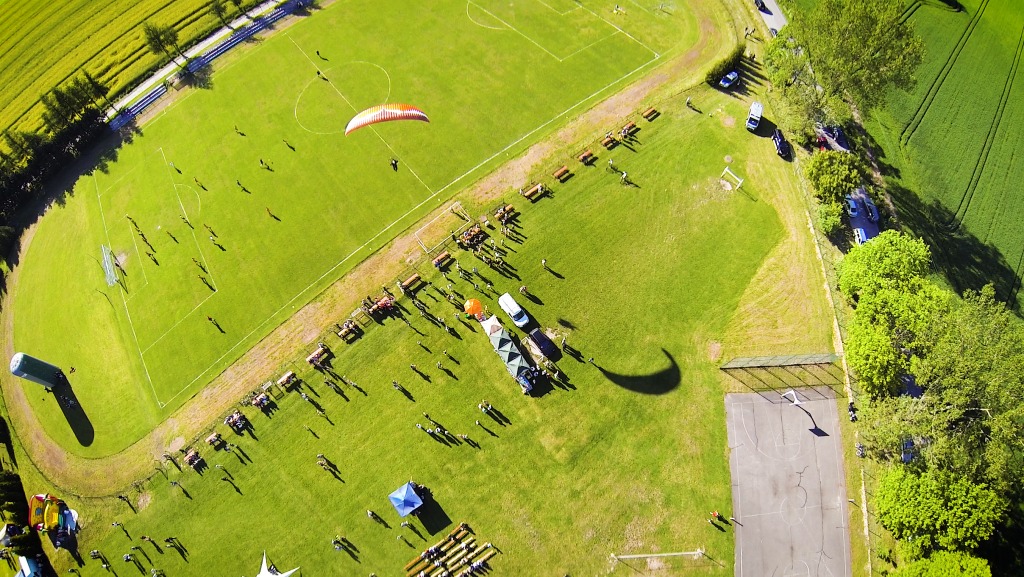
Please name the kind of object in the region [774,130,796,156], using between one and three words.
car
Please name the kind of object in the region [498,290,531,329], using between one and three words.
van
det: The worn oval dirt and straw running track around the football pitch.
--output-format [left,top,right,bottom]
[0,0,736,496]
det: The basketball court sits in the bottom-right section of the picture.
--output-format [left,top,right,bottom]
[725,387,852,577]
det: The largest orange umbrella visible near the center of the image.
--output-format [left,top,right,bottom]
[465,300,481,315]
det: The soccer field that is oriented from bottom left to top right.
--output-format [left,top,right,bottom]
[14,0,696,458]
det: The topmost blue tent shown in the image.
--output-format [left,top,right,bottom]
[388,482,425,515]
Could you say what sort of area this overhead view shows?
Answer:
sports ground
